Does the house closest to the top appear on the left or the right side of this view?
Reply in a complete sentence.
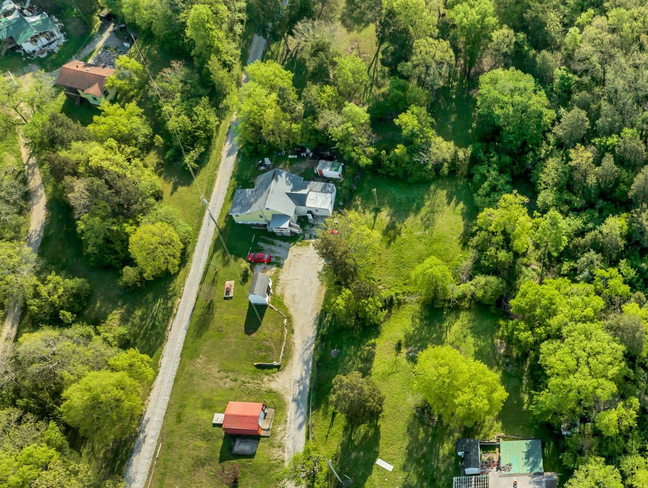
The house closest to the top sits on the left side.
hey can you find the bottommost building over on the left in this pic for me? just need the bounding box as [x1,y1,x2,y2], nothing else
[220,400,276,434]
